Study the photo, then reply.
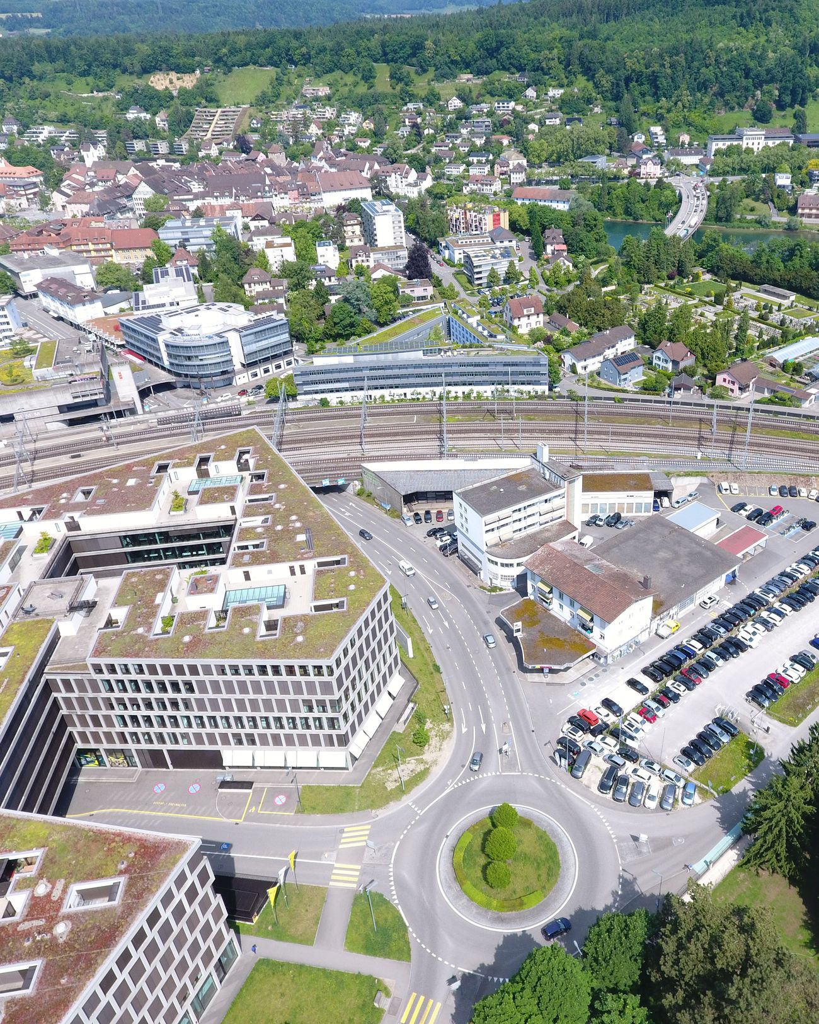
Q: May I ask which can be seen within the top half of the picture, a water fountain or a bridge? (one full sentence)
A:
It is a bridge that can be seen within the top half of the picture.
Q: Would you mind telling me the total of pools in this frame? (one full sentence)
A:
There are no pools in the image.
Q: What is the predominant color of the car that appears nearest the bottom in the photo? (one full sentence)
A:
From above, the car that appears nearest the bottom appears blue.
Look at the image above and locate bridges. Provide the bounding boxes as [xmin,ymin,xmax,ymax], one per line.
[652,182,707,253]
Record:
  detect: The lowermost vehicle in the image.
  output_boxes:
[539,914,574,942]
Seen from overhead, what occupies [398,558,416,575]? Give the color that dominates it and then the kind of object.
white vehicle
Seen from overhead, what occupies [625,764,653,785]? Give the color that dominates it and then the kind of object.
white car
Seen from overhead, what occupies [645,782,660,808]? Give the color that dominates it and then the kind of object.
white car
